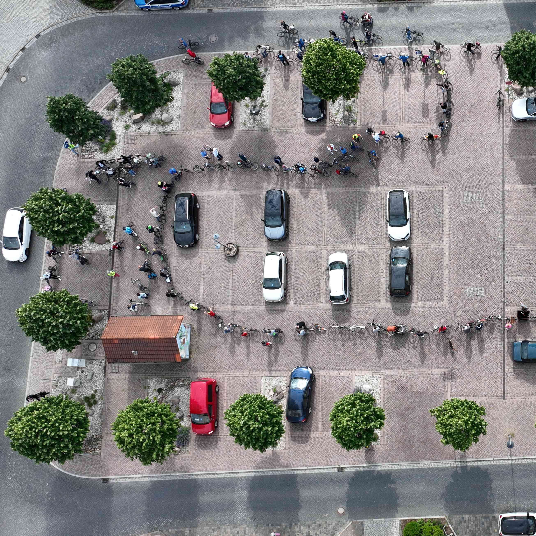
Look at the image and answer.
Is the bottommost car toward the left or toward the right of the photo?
right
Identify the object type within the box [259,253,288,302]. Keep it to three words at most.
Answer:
car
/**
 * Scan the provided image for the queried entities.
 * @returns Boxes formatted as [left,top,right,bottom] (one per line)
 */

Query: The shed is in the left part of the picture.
[100,314,192,364]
